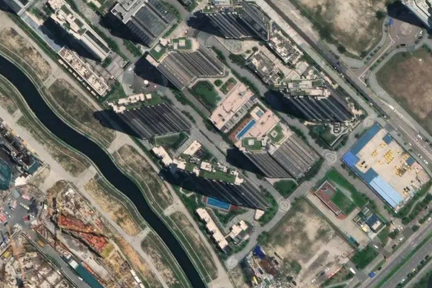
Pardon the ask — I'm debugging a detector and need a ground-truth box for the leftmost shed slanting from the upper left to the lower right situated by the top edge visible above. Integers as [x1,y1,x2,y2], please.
[18,12,64,56]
